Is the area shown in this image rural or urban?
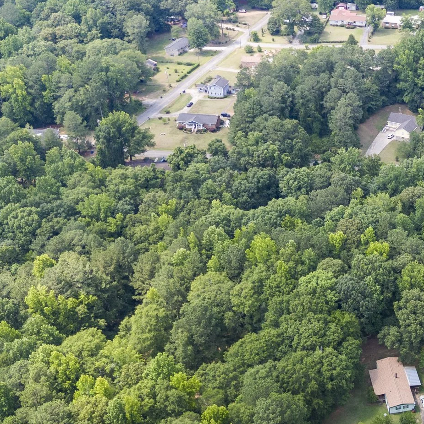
rural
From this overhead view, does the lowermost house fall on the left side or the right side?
right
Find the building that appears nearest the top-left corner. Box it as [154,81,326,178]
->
[31,128,64,143]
